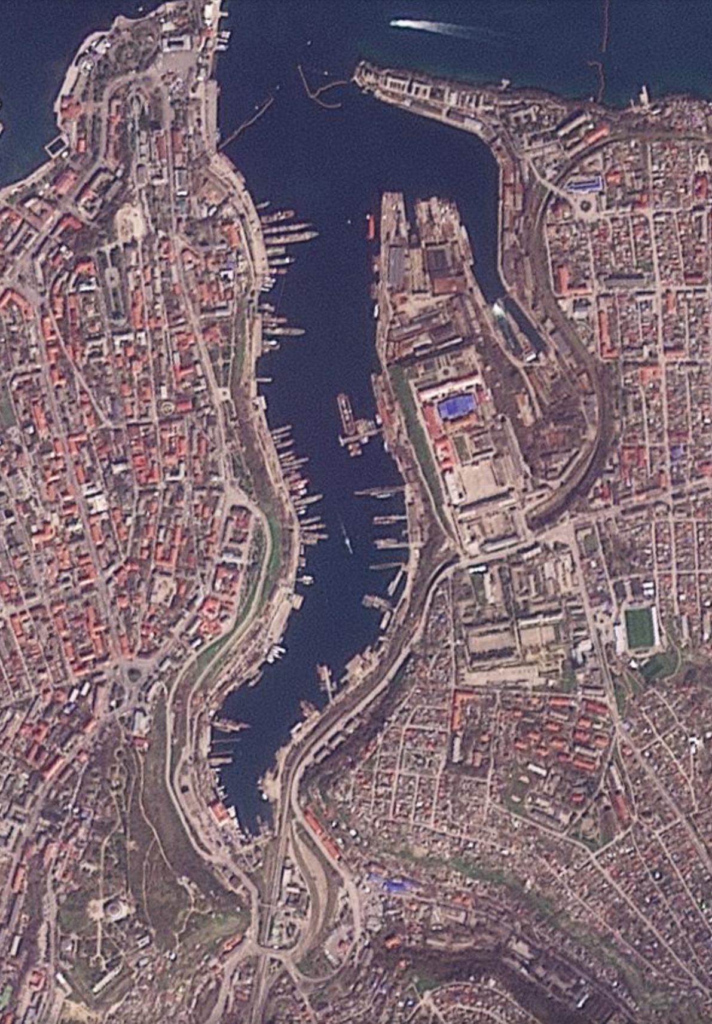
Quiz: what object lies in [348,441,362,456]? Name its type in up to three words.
ship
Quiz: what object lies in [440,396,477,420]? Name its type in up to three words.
building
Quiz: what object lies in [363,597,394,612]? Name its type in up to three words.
ship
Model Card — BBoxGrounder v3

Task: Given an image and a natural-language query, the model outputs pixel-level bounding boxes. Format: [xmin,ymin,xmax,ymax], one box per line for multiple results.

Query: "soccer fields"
[626,608,655,649]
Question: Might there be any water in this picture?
Yes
